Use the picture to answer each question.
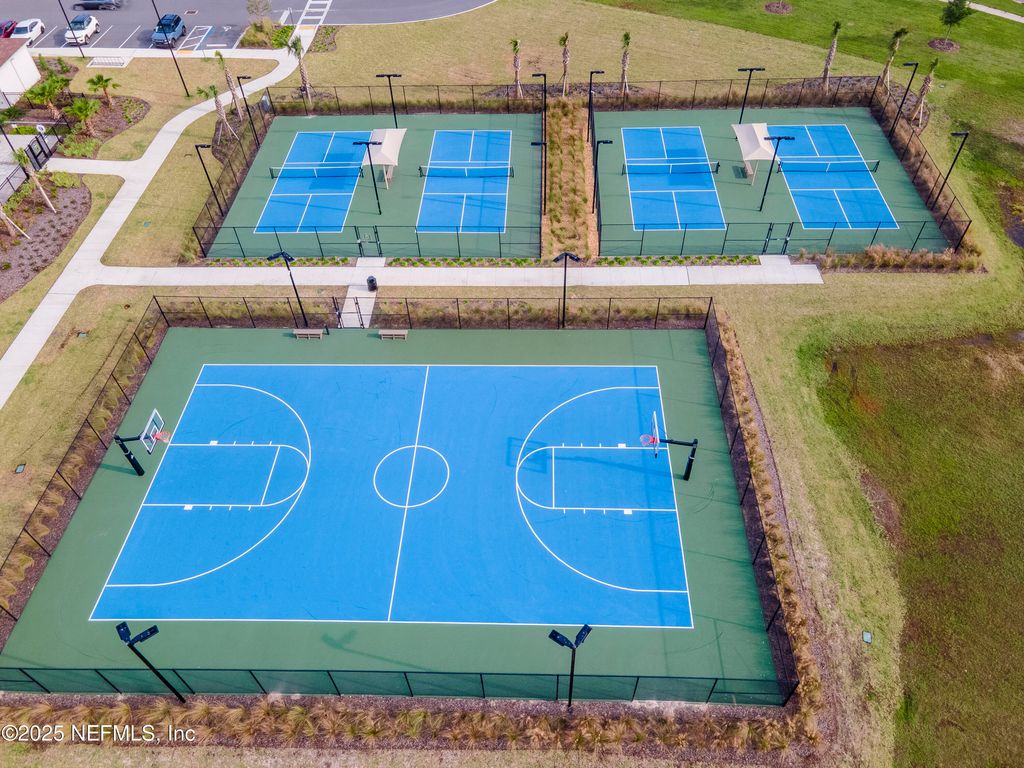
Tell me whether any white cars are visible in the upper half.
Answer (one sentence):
Yes, a white car is visible in the upper half.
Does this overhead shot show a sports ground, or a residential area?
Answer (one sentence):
What you see here is a sports ground.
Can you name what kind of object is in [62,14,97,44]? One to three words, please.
car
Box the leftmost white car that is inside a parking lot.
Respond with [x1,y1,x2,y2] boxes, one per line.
[7,18,43,44]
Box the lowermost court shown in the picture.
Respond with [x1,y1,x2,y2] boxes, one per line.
[0,327,784,706]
